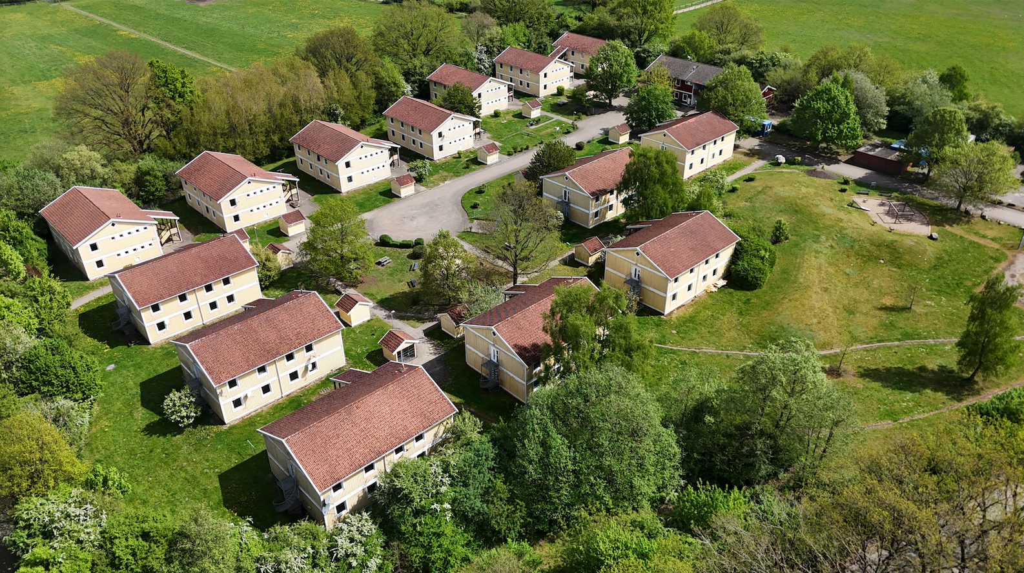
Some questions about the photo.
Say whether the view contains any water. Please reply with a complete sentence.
No, the scene doesn't show any water.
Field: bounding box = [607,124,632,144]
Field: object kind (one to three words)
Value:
shed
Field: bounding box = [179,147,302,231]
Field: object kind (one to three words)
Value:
house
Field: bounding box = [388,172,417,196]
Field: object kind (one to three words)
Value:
shed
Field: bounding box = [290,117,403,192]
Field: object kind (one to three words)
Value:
house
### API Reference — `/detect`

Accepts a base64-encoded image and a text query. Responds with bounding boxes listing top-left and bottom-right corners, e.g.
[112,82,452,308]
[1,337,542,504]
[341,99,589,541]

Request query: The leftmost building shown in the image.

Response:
[40,181,182,278]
